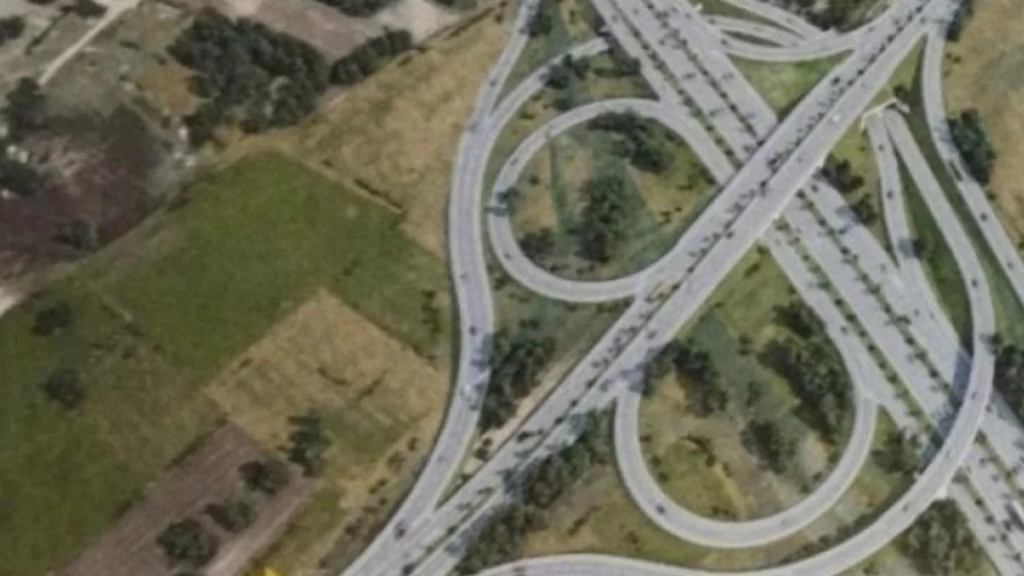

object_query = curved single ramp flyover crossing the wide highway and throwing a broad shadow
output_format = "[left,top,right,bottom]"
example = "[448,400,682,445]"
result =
[907,348,995,495]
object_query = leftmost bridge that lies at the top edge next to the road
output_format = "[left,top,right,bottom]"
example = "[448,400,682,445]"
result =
[593,0,715,41]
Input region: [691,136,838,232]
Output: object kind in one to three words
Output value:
bridge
